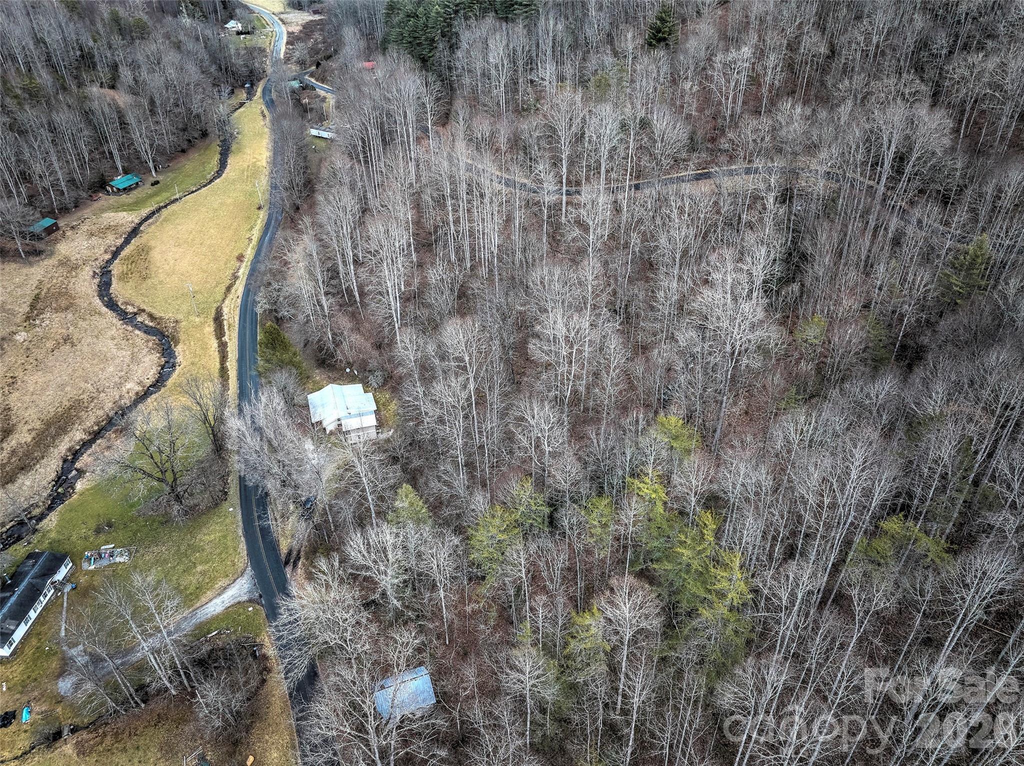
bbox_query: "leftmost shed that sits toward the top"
[29,219,60,240]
